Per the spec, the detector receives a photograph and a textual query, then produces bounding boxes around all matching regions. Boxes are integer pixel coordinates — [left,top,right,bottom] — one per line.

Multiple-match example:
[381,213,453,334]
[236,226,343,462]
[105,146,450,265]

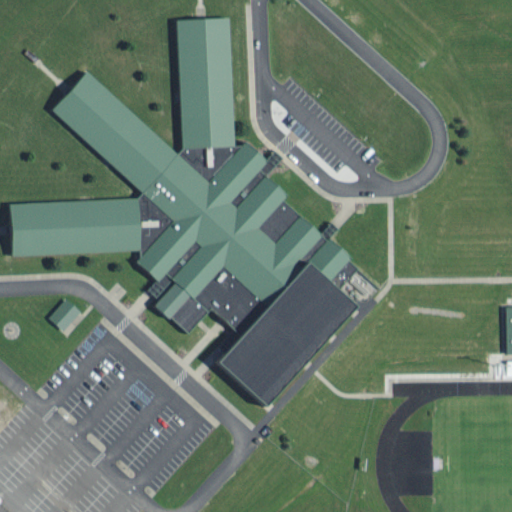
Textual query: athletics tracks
[376,381,512,512]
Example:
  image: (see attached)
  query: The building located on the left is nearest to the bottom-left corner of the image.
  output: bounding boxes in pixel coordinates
[49,300,81,330]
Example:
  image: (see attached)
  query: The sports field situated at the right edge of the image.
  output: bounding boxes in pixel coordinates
[433,395,512,512]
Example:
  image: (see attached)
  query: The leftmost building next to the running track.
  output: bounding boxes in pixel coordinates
[10,18,358,406]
